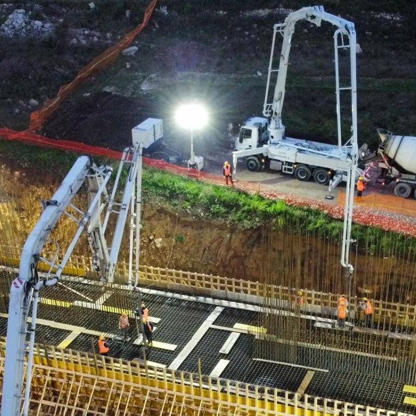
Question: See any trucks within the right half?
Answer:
Yes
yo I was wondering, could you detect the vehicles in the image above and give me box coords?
[230,5,365,321]
[366,126,416,196]
[2,142,148,416]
